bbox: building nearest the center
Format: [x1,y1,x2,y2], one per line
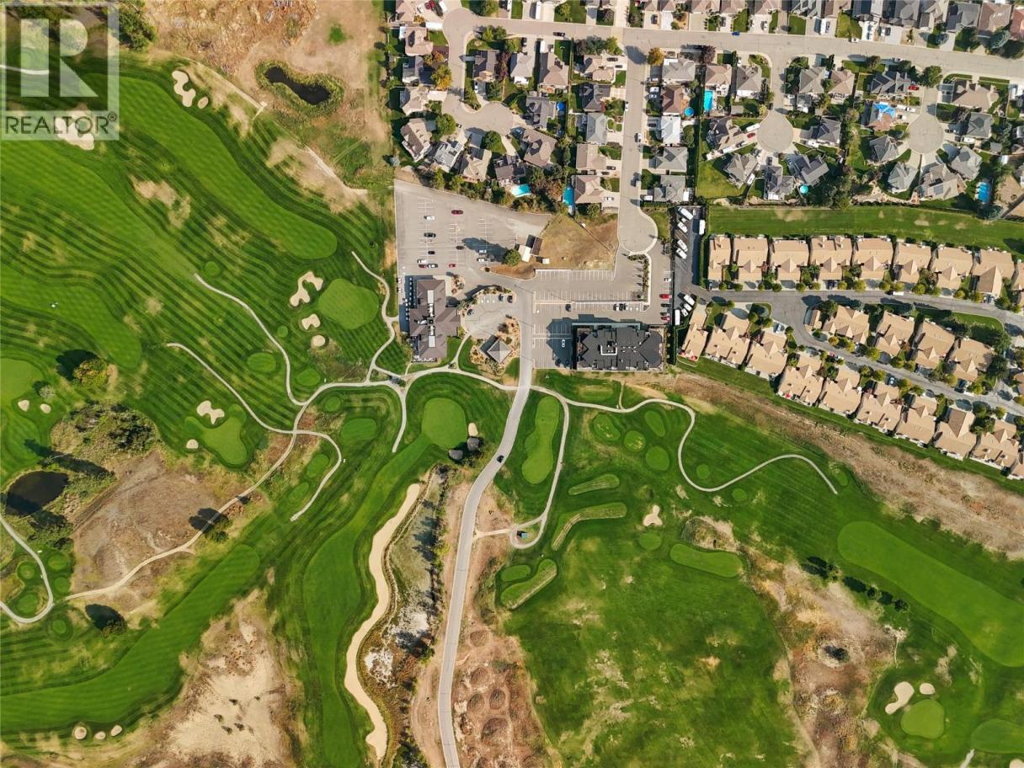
[486,337,513,364]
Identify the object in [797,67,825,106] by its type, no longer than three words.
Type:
house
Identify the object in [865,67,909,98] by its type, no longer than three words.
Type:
house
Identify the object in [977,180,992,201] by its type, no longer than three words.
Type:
swimming pool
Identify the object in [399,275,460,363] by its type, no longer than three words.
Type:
building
